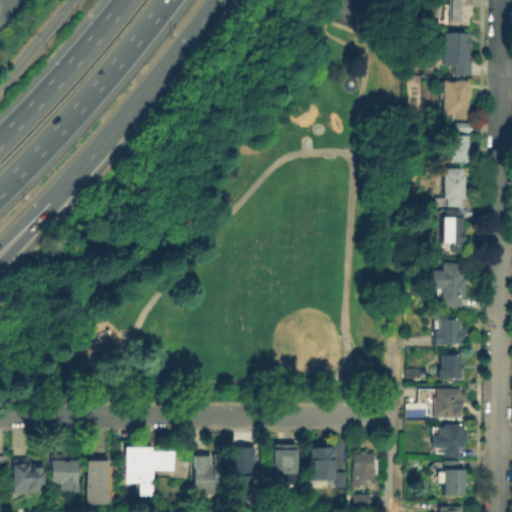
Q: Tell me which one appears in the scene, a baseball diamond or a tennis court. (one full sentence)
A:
Looking from above, you can make out a baseball diamond.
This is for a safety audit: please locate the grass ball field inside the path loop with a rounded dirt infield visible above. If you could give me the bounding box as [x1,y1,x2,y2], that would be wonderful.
[178,156,348,394]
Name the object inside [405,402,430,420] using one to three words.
building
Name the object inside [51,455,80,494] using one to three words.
house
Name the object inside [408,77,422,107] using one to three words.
building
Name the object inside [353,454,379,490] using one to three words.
house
